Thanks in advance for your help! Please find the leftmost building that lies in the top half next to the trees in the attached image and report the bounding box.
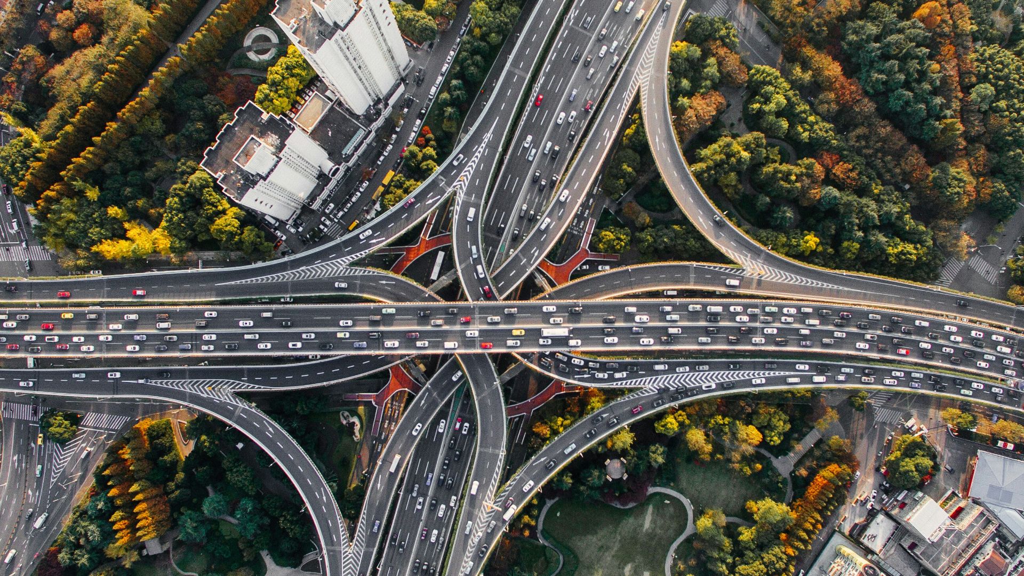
[199,100,325,216]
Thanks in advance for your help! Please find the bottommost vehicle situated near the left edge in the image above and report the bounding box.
[1,546,16,566]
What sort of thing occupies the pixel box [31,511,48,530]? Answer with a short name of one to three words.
vehicle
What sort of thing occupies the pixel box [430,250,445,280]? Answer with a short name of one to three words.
vehicle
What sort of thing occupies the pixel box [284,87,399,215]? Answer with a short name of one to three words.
building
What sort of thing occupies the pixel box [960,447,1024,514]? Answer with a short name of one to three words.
building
